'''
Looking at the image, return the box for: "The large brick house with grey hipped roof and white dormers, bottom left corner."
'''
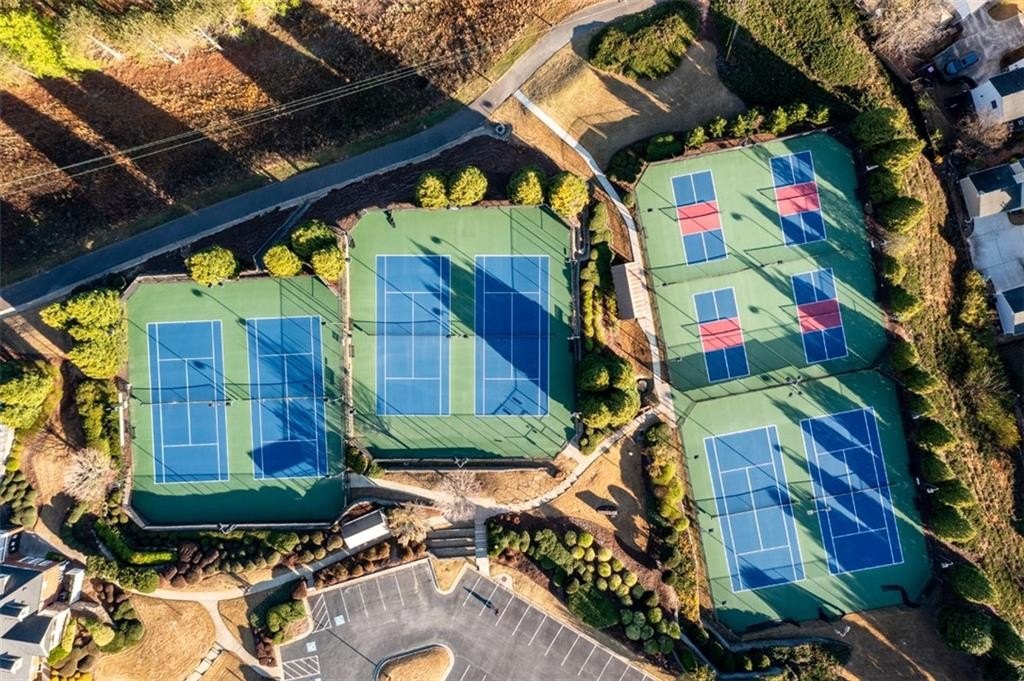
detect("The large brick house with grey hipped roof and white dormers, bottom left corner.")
[0,554,68,681]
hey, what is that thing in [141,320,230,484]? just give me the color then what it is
blue tennis court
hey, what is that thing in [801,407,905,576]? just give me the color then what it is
blue tennis court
